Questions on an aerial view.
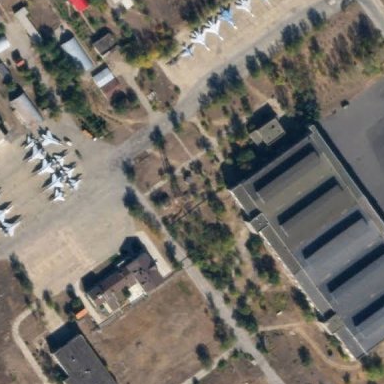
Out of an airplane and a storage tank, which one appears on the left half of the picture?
airplane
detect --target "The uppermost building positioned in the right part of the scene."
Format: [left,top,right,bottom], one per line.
[248,118,286,148]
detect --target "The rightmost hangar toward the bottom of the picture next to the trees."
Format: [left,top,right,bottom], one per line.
[228,124,384,360]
